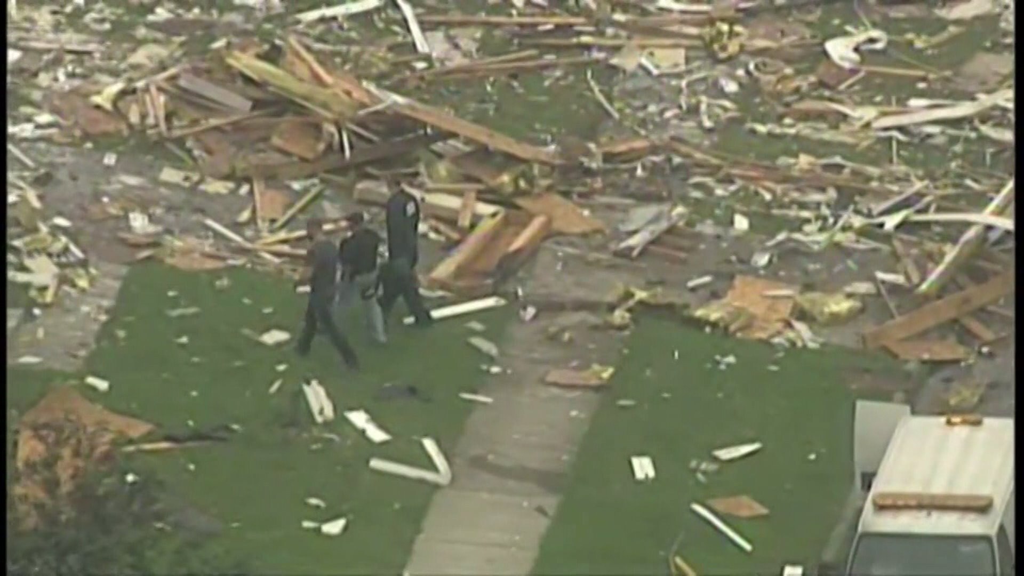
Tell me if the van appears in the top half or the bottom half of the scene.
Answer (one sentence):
You can find the van in the bottom half.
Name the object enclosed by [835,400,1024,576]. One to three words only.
van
